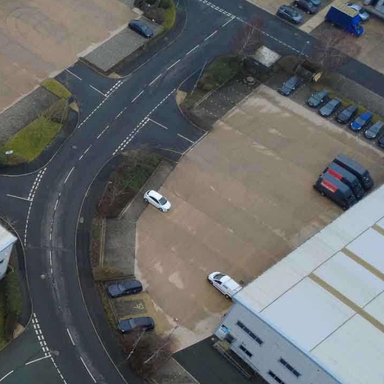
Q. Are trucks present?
Yes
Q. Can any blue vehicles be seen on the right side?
Yes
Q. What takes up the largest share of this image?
paved ground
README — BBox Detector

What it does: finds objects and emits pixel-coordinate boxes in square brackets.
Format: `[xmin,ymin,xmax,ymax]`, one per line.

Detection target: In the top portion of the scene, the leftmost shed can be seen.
[247,46,282,77]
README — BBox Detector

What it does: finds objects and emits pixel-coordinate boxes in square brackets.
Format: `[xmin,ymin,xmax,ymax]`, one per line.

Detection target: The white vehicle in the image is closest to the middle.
[144,191,171,211]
